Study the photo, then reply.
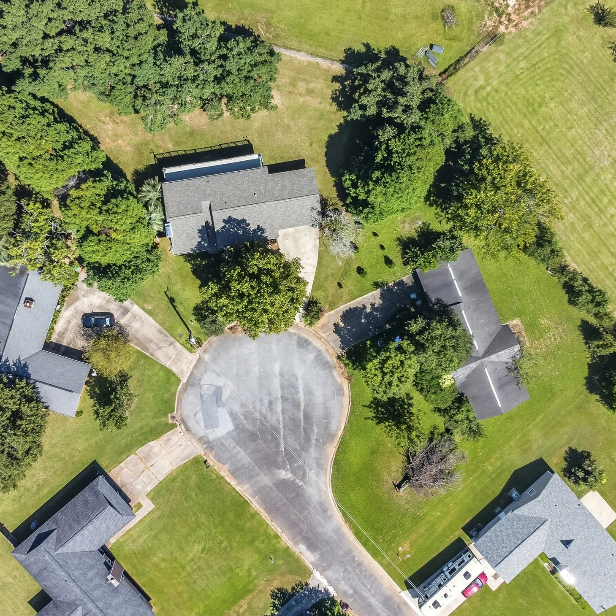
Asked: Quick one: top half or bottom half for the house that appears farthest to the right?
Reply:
bottom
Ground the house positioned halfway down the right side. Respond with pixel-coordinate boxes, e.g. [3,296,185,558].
[416,248,529,419]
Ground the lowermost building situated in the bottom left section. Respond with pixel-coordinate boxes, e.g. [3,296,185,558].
[11,475,163,616]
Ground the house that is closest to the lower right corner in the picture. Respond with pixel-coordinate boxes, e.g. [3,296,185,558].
[474,471,616,614]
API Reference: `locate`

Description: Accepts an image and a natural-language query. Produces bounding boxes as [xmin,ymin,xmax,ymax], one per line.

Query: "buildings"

[0,259,93,418]
[474,471,616,614]
[416,248,529,419]
[11,475,163,616]
[161,152,319,255]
